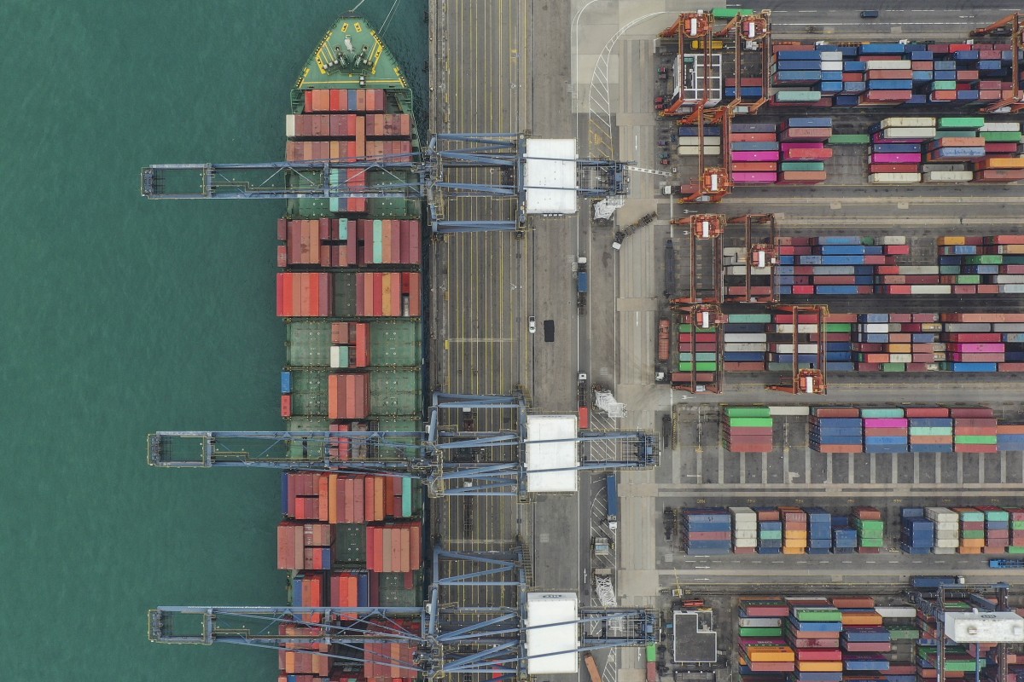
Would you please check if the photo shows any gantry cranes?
Yes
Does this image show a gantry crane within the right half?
Yes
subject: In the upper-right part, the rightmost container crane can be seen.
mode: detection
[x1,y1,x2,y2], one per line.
[969,8,1024,113]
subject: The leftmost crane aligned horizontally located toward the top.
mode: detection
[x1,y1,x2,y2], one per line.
[139,131,629,252]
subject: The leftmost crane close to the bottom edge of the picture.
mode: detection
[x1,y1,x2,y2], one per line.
[146,533,660,679]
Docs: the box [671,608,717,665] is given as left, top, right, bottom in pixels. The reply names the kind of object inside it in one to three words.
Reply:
building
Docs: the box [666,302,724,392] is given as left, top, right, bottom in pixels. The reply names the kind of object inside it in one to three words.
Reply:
container crane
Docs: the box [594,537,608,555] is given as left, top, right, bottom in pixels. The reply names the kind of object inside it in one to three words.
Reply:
vehicle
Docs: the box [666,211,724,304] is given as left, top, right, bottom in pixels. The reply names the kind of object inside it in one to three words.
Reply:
container crane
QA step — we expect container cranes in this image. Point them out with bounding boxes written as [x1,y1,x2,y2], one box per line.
[710,8,772,113]
[146,385,660,498]
[146,533,660,679]
[666,211,724,304]
[762,303,827,398]
[674,104,733,204]
[907,584,1024,682]
[655,6,713,115]
[969,8,1024,113]
[718,211,780,304]
[139,131,629,252]
[666,302,724,392]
